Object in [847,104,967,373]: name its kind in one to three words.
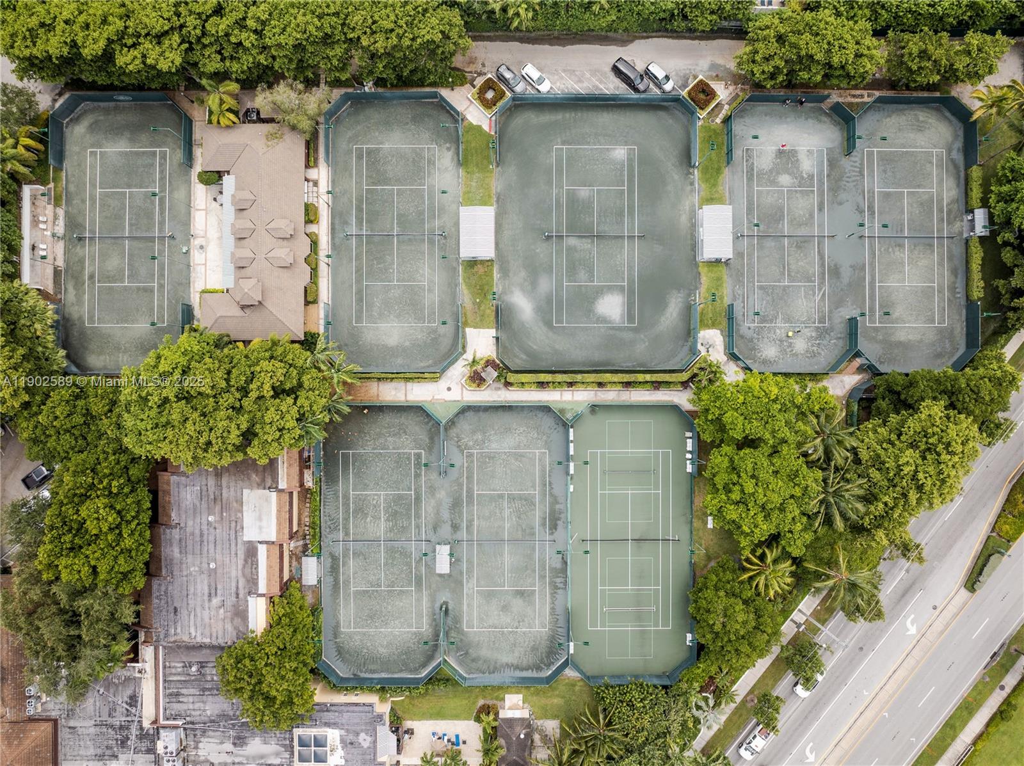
tennis court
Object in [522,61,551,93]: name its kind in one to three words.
car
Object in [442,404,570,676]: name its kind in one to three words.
tennis court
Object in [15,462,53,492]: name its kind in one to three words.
truck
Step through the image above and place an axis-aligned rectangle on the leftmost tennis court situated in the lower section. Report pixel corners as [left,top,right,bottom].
[321,404,443,676]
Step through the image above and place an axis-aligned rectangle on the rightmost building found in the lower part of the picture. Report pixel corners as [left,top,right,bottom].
[497,688,532,766]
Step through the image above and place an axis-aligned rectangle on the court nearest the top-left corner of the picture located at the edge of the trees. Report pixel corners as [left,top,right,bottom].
[62,101,193,374]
